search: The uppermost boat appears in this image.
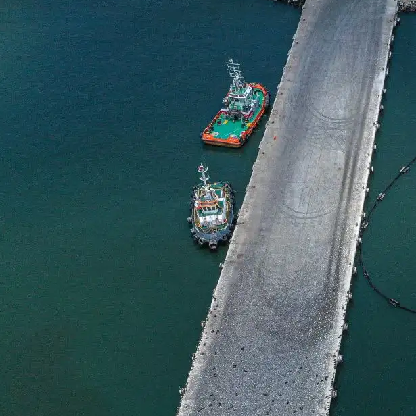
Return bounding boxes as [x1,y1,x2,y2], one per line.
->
[202,59,271,150]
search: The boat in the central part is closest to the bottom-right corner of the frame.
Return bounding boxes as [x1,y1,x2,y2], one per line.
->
[189,169,238,253]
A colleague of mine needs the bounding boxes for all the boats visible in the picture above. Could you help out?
[202,59,271,150]
[189,169,238,253]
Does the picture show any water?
Yes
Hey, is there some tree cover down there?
No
